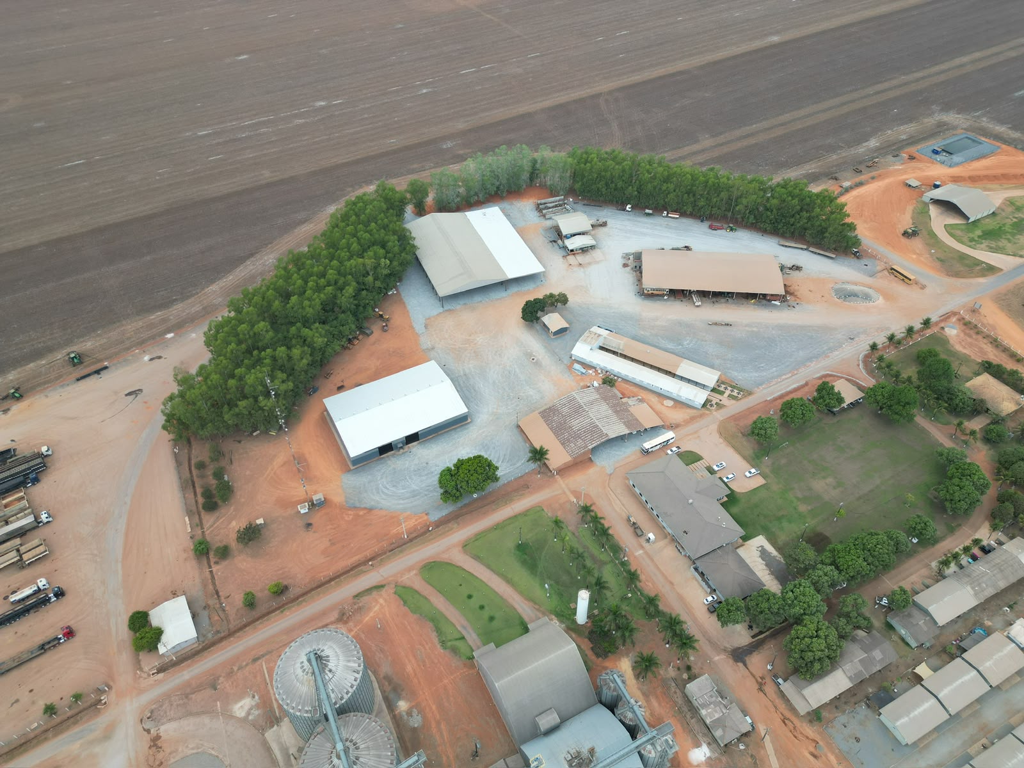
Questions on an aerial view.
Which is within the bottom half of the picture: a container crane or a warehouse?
warehouse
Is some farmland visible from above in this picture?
Yes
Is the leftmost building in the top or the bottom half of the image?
bottom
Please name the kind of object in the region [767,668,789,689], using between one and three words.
vehicle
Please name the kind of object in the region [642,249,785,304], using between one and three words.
building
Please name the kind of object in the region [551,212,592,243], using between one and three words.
shed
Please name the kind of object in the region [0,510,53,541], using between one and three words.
truck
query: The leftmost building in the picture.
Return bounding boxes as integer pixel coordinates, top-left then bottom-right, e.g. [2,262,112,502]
[149,596,202,662]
